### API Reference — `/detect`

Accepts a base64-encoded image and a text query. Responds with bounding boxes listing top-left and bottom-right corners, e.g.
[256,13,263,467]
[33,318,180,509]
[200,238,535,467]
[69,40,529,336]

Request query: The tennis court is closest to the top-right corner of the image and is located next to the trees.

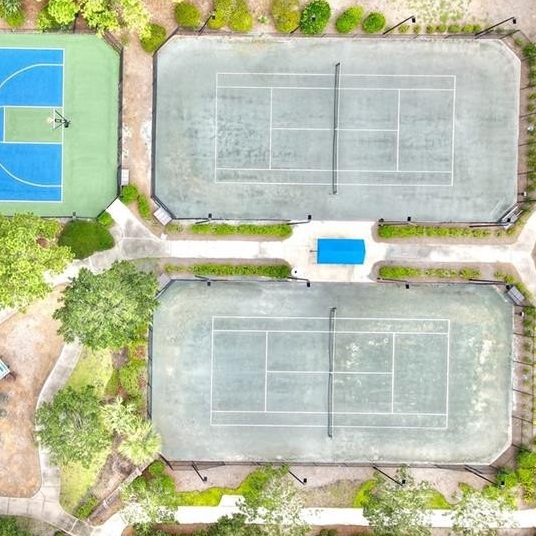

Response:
[152,35,521,221]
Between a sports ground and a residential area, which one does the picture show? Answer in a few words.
sports ground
